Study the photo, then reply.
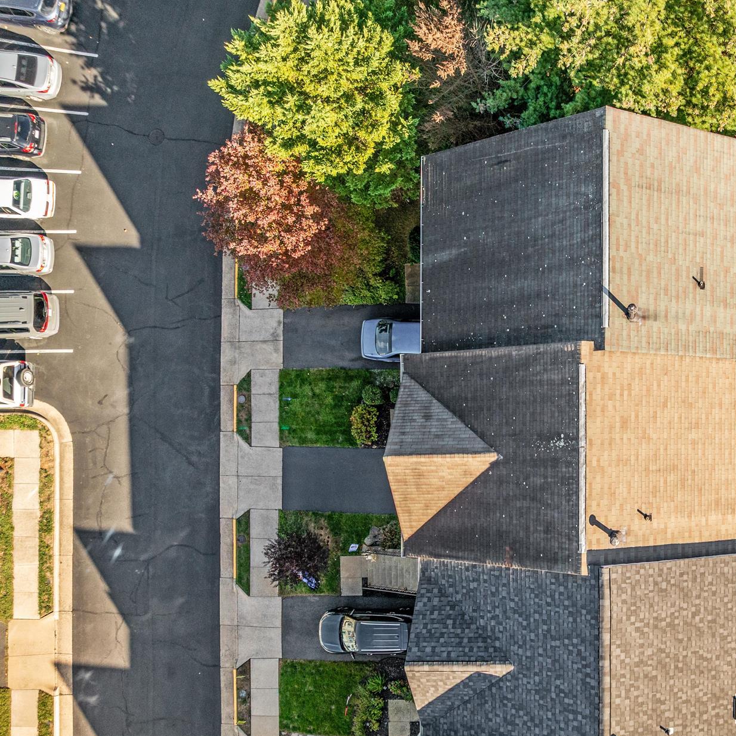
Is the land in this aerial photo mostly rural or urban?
urban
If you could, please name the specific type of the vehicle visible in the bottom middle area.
car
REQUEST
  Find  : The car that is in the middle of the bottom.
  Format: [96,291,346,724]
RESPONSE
[317,610,414,663]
